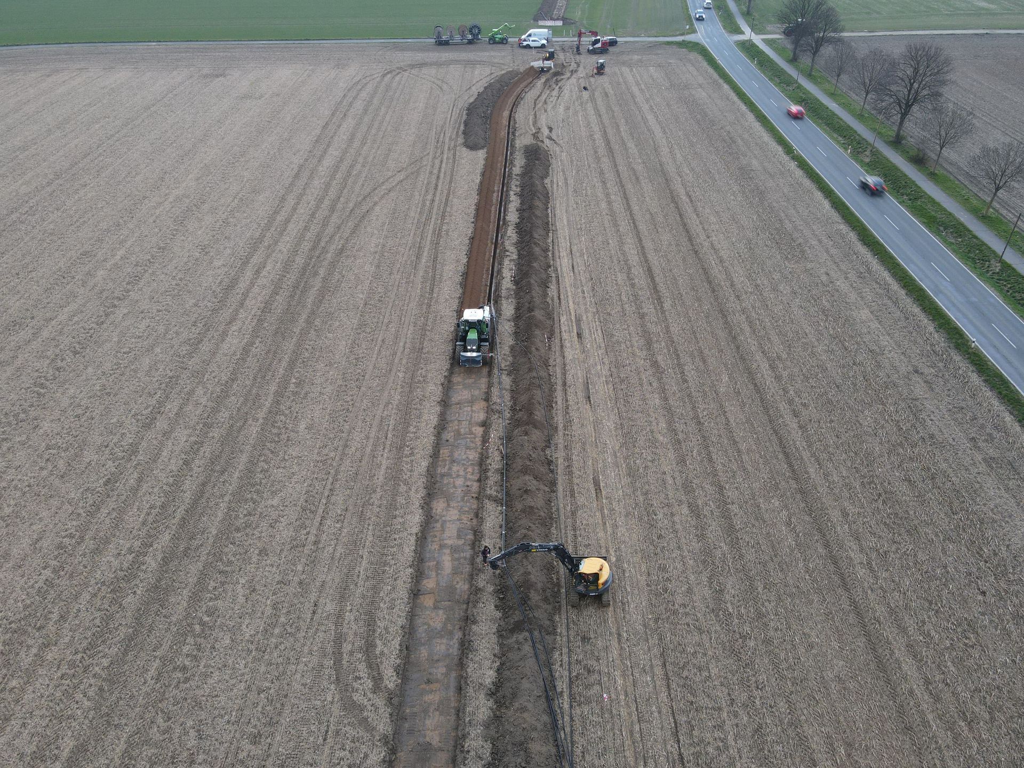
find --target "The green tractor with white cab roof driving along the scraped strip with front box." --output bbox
[456,306,504,372]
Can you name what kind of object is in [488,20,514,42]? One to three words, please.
work vehicle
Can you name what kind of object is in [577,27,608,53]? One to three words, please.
work vehicle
